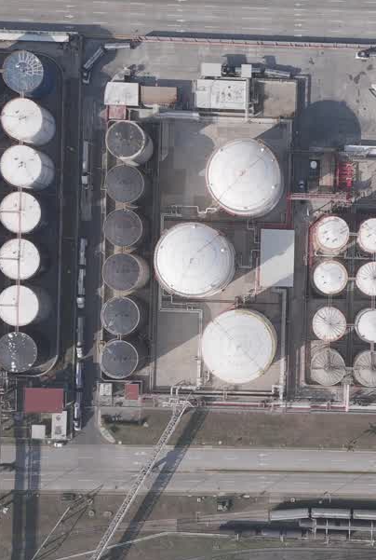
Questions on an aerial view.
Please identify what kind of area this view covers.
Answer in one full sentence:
What you see here is an industrial area.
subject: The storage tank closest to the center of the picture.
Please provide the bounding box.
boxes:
[155,220,237,300]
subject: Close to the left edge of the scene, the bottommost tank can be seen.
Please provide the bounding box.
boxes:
[0,327,50,371]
